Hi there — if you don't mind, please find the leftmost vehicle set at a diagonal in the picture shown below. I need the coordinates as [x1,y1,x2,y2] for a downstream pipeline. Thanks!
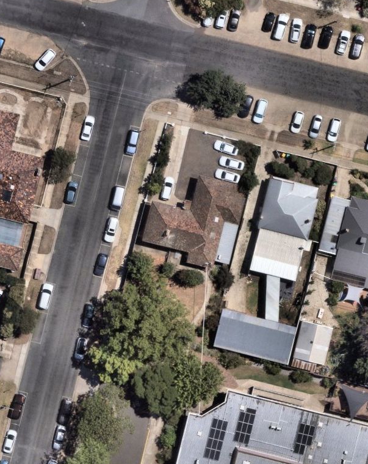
[35,48,55,72]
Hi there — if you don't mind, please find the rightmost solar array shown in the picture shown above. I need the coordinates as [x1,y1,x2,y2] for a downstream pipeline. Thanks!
[331,270,366,286]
